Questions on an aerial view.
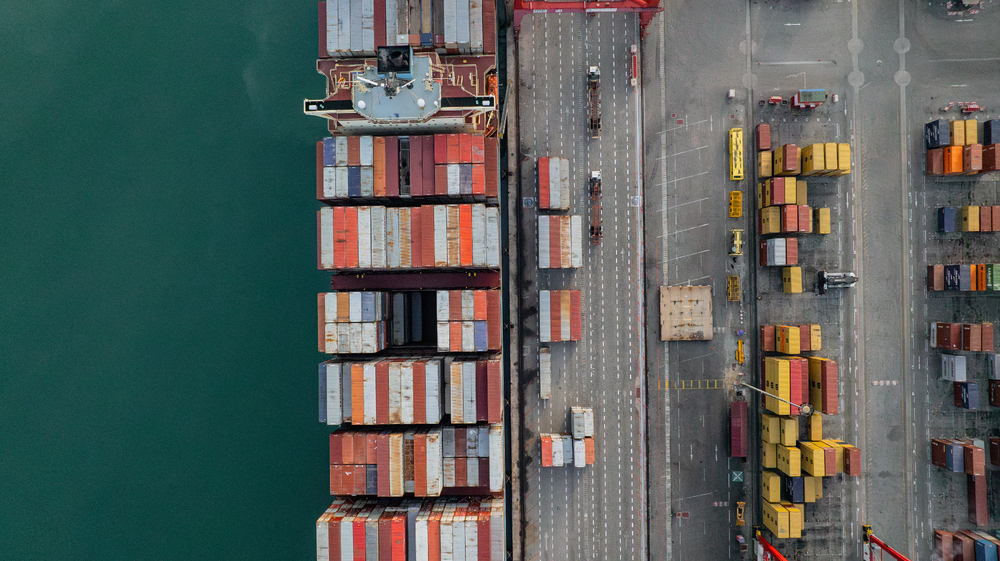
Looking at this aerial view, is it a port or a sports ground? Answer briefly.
port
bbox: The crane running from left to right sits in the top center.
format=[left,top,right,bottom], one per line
[513,0,664,44]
